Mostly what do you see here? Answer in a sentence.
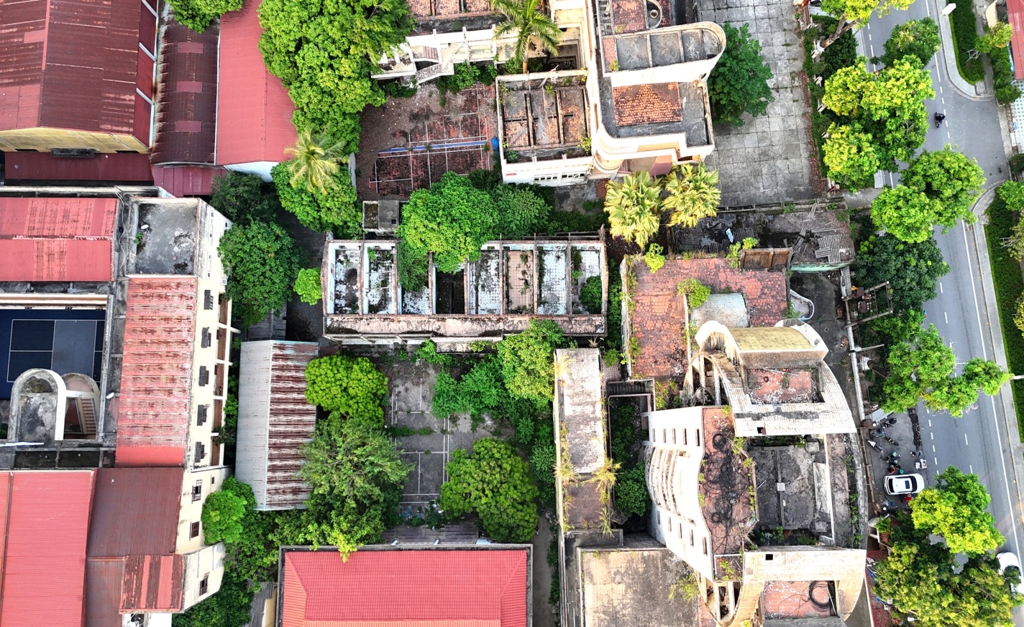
Most of the picture is covered by buildings.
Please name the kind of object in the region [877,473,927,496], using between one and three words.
car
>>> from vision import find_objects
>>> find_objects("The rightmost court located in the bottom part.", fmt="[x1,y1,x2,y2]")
[383,350,509,530]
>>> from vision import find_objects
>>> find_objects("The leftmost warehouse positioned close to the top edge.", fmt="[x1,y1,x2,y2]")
[0,0,165,188]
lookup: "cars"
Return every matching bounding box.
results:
[877,473,927,496]
[994,555,1024,605]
